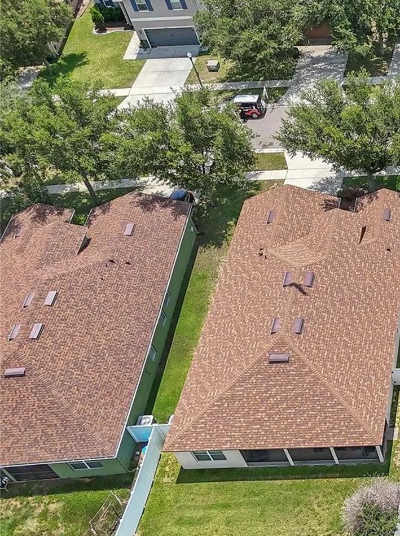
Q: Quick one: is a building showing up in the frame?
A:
Yes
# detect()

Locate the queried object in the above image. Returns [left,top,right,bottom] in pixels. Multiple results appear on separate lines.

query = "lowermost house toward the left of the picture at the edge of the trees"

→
[0,189,197,486]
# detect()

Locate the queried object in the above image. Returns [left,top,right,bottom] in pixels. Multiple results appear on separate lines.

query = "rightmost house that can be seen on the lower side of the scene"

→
[161,184,400,467]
